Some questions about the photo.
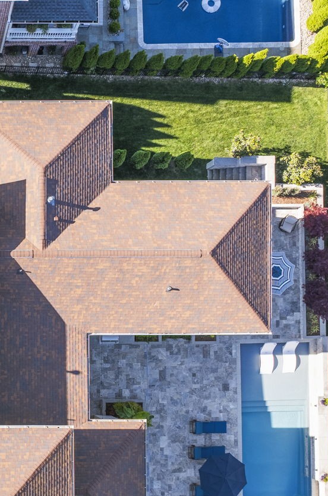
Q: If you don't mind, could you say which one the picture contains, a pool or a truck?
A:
pool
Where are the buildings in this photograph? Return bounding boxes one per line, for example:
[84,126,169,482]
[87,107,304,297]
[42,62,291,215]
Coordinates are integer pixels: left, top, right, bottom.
[0,98,275,496]
[0,0,113,55]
